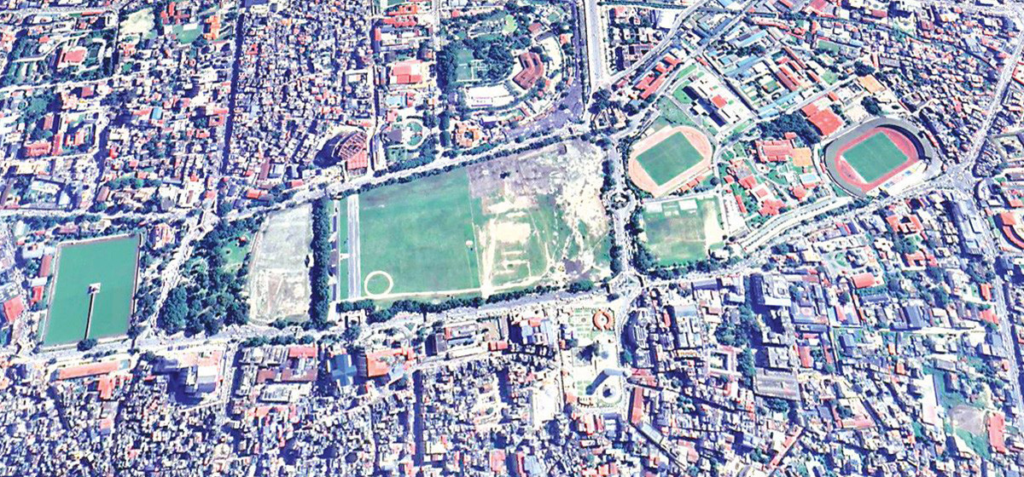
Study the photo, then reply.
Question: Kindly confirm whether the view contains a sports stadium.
Yes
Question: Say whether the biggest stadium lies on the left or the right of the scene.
right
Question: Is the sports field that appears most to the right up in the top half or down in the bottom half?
top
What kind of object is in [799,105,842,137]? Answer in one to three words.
building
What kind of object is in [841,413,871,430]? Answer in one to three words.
building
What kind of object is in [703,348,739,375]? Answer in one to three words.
house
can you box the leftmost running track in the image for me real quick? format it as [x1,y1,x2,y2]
[627,123,716,193]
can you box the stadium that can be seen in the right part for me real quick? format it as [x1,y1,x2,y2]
[819,114,939,202]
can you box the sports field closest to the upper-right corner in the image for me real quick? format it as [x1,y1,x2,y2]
[842,131,907,182]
